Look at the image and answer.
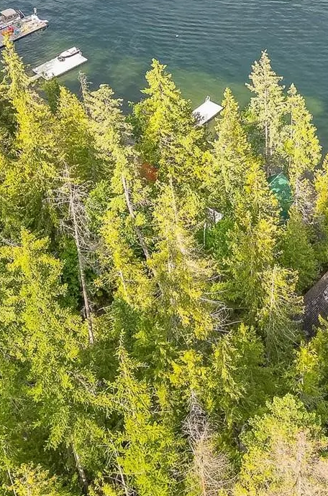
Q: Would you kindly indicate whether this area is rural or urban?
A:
rural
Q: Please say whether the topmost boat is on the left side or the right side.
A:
left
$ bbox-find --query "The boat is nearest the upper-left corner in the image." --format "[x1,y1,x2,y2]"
[0,3,34,29]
